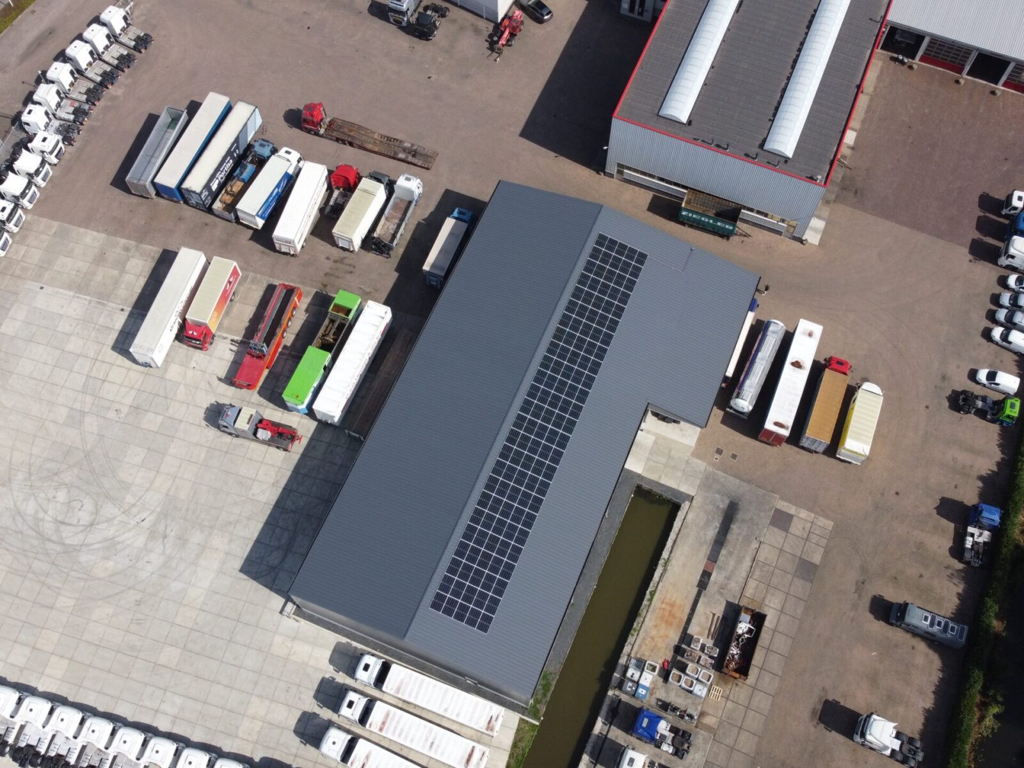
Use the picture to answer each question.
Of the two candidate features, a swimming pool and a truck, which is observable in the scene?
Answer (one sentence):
The image shows a truck.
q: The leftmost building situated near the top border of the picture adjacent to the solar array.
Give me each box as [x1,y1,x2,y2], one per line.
[599,0,893,241]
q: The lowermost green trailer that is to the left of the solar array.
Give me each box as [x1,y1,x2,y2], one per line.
[283,290,363,411]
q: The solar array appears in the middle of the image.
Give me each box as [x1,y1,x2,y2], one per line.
[432,234,648,633]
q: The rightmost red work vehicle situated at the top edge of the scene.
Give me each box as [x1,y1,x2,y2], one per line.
[493,10,524,61]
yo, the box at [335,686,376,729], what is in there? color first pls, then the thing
white truck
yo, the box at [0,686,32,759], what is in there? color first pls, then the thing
white truck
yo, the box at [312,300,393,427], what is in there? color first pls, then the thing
white trailer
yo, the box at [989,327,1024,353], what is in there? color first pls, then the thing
white vehicle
